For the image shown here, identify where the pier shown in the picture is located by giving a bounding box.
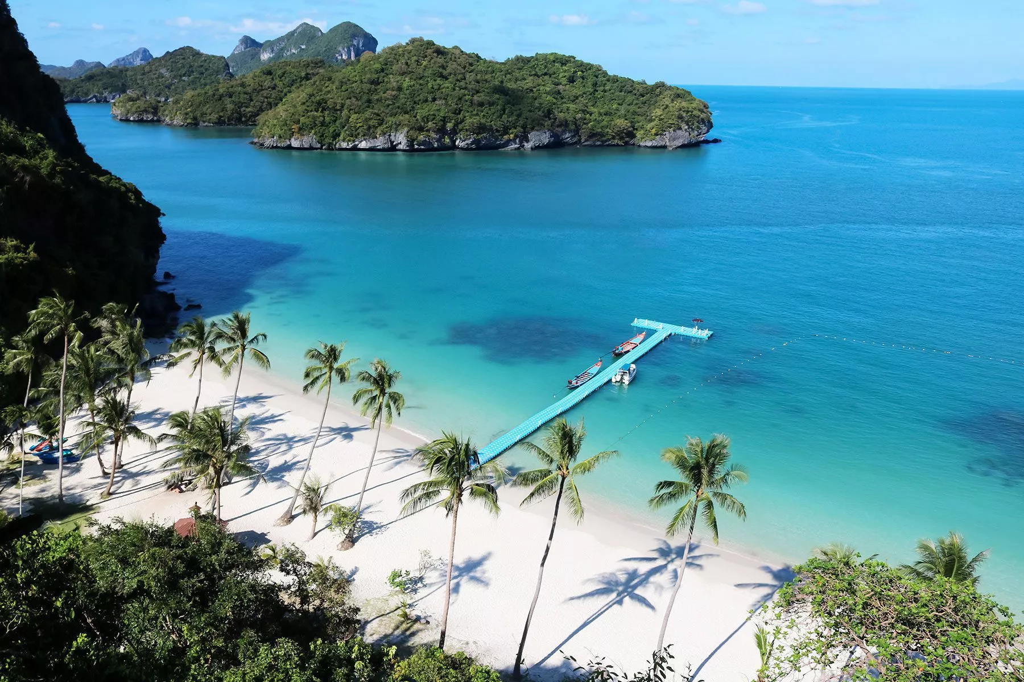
[465,318,712,468]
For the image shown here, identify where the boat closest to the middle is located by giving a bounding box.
[561,356,602,391]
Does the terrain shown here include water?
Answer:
Yes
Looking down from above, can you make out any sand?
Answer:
Yes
